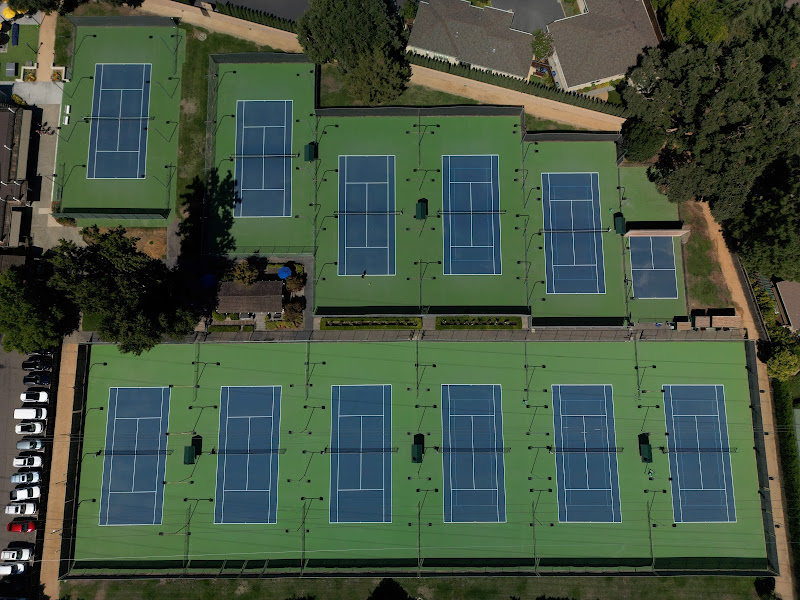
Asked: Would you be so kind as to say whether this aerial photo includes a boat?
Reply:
No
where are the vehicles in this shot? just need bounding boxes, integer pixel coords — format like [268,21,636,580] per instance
[9,485,41,500]
[16,422,45,435]
[6,501,38,515]
[23,359,52,372]
[21,390,50,403]
[0,561,27,577]
[9,519,37,533]
[24,373,52,387]
[1,546,33,562]
[13,455,43,469]
[27,347,54,359]
[11,470,41,484]
[17,438,45,452]
[11,406,48,420]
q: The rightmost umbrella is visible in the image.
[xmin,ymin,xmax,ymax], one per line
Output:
[278,266,292,279]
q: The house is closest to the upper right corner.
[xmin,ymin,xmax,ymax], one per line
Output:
[545,0,659,94]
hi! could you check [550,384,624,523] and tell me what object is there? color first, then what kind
blue tennis court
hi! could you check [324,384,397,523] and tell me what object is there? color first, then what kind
blue tennis court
